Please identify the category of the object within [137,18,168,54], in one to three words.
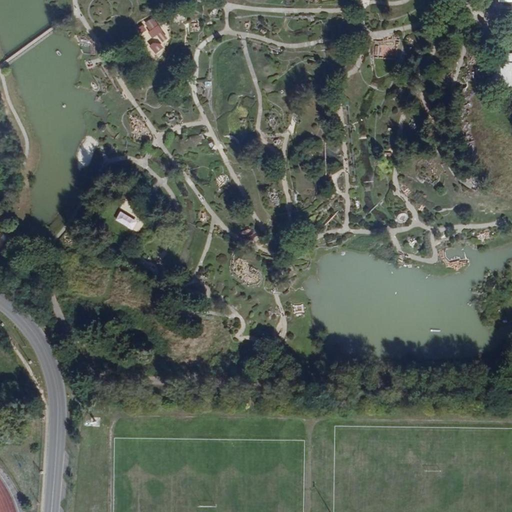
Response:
building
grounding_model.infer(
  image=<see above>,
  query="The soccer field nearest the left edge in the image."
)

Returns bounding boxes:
[112,437,304,512]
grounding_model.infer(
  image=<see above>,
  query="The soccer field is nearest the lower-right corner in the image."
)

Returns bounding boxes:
[334,426,512,512]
